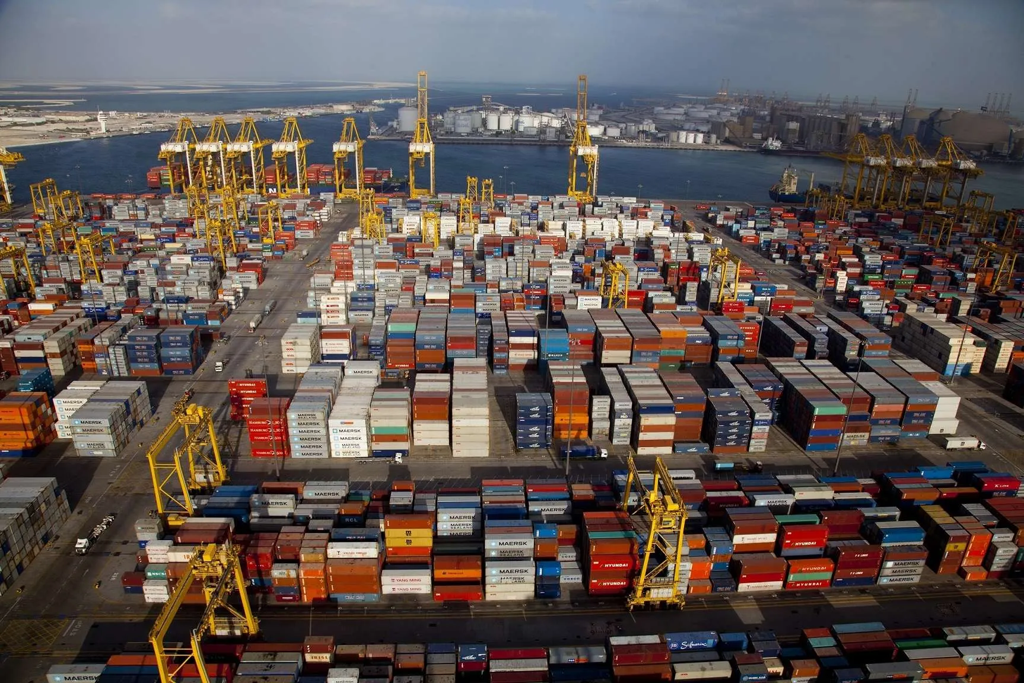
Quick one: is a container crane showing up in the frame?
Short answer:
Yes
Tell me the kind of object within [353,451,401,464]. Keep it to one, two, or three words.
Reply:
vehicle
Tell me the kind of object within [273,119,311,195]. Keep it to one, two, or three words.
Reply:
container crane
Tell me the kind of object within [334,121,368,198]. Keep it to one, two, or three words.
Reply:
container crane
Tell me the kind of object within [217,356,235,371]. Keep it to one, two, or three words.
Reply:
vehicle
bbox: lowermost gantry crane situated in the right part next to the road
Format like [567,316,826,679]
[621,455,691,607]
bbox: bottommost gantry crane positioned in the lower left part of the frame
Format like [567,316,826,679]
[152,530,263,683]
